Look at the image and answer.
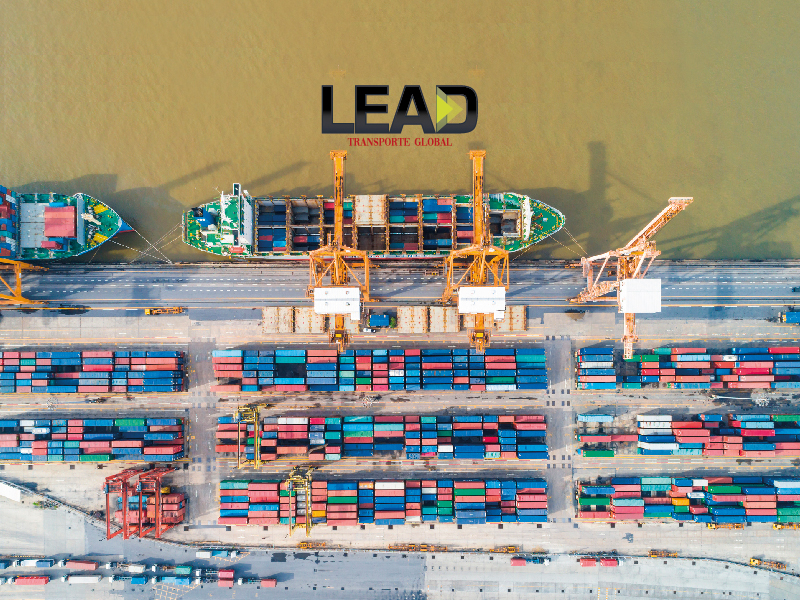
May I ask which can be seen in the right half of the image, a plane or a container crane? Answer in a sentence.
It is a container crane that can be seen in the right half of the image.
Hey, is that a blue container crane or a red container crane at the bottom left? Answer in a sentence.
You can see a red container crane at the bottom left.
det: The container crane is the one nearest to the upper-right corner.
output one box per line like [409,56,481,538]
[569,191,697,361]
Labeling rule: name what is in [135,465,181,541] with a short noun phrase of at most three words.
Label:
container crane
